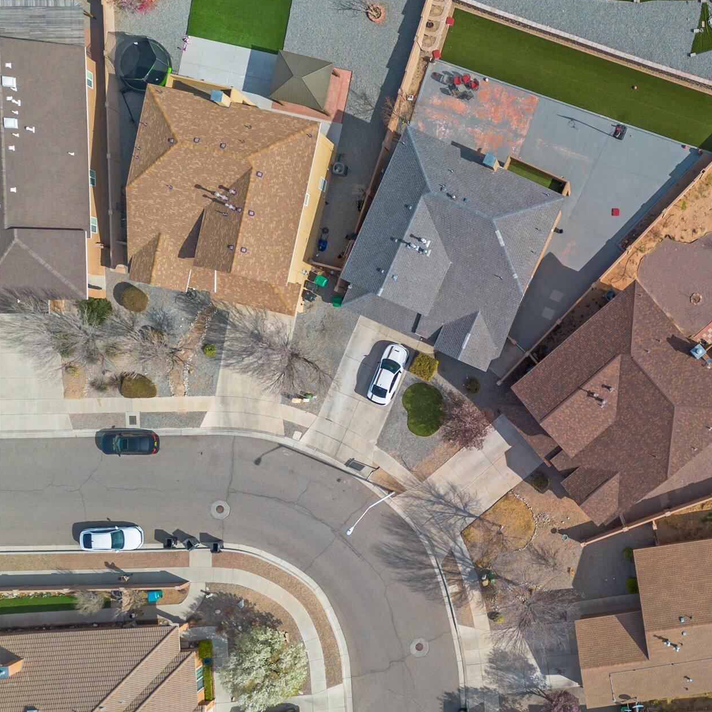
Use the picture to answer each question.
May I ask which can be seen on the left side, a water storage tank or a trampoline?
trampoline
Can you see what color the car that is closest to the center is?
white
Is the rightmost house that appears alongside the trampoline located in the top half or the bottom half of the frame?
top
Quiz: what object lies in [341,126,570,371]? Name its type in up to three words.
house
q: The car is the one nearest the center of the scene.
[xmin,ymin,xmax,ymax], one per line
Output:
[367,343,409,406]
